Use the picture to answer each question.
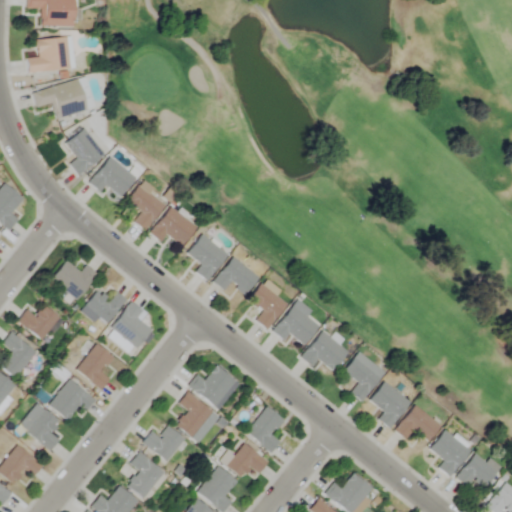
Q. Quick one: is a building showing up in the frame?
Yes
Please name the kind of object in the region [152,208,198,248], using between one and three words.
house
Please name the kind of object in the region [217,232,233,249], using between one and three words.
swimming pool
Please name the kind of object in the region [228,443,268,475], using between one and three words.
house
